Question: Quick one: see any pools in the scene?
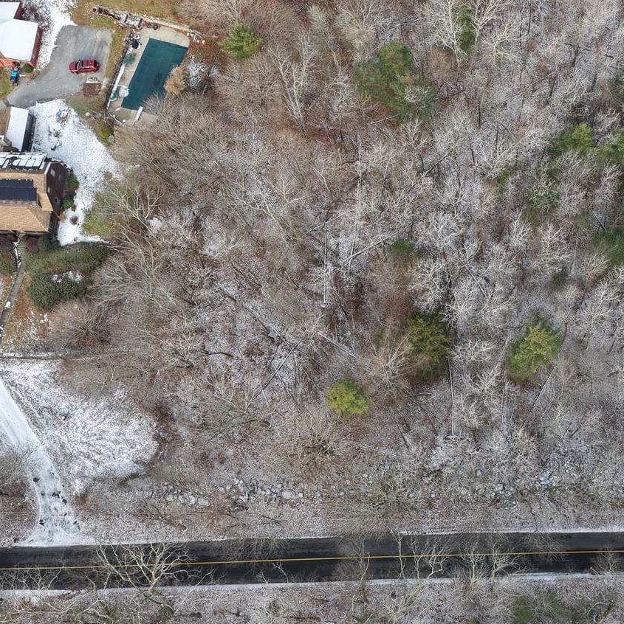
Yes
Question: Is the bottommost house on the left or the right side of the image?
left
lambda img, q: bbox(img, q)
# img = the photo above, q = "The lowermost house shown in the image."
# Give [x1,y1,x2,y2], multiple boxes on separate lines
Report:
[0,152,70,238]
